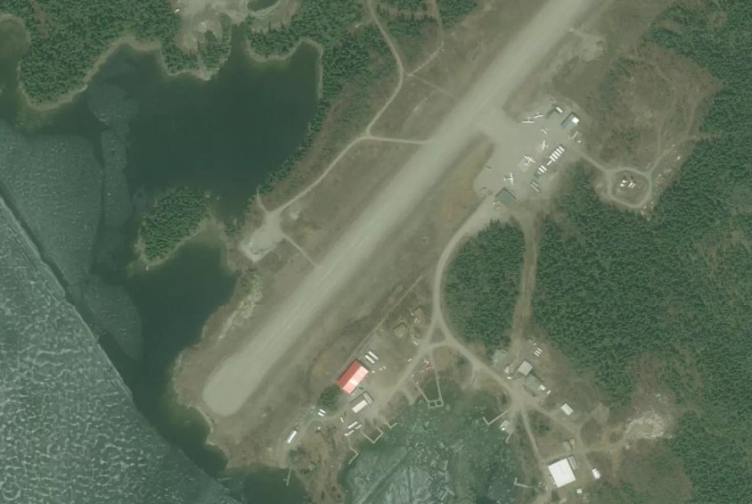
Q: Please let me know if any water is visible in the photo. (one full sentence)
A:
Yes, some water is visible.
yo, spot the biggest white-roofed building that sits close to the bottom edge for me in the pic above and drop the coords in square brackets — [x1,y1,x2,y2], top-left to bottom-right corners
[548,458,576,488]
